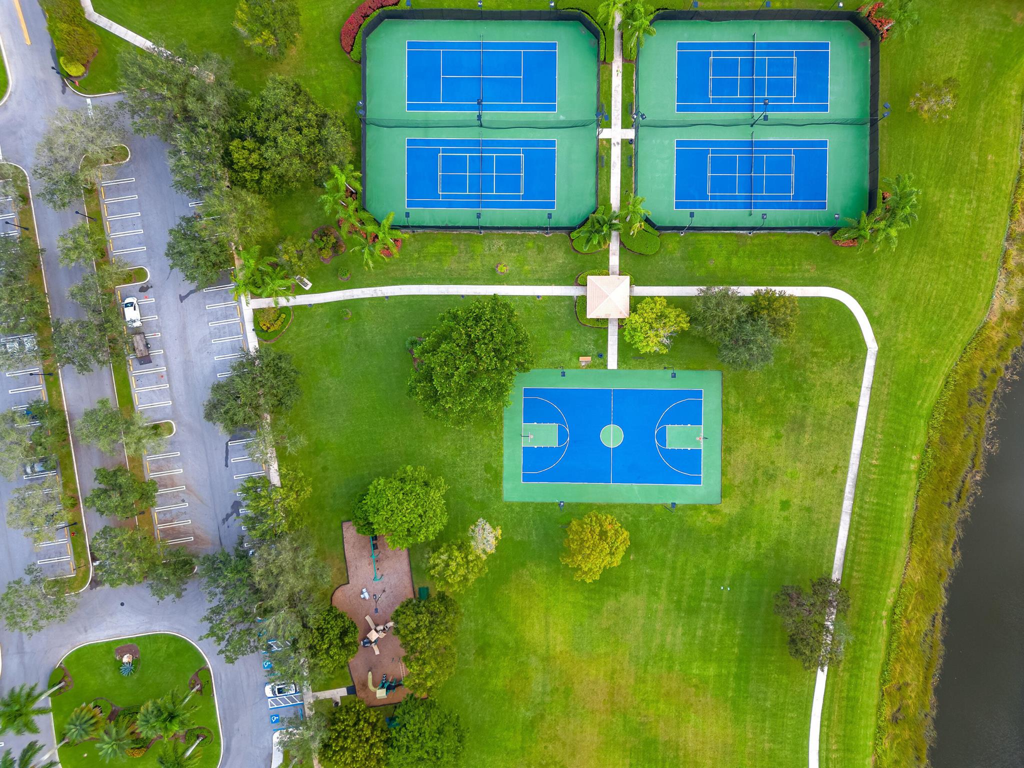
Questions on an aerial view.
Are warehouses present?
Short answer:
No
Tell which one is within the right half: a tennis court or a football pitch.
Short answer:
tennis court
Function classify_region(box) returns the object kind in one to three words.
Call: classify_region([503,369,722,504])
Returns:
basketball court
